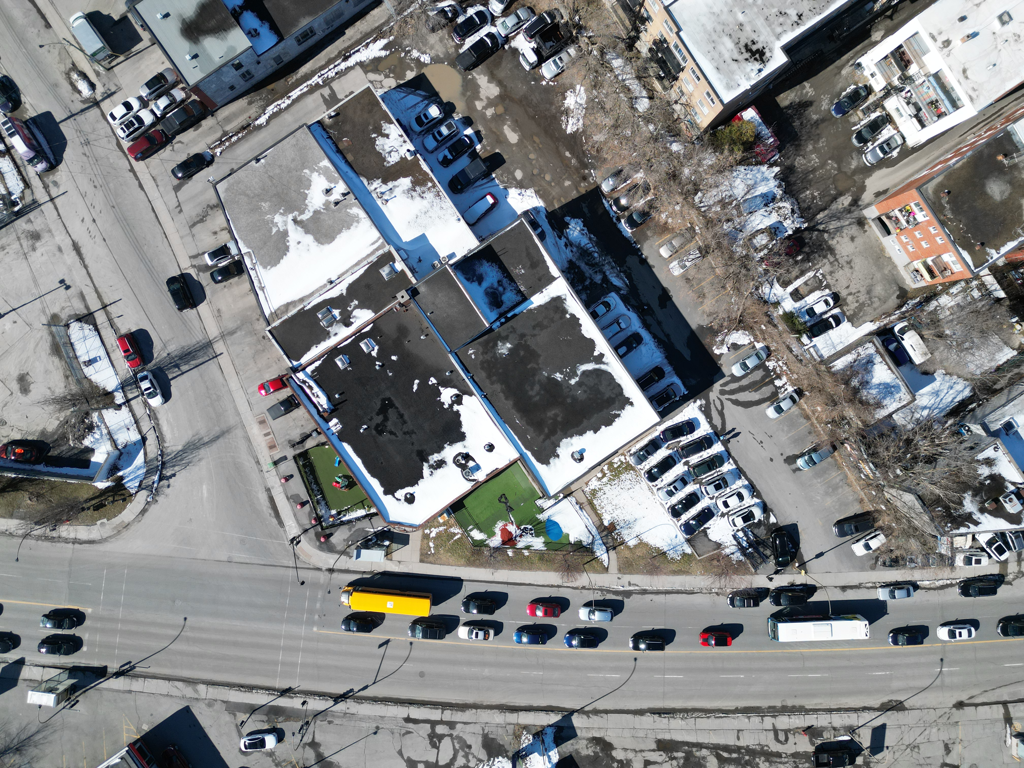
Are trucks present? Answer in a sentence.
Yes, the frame does contain a truck.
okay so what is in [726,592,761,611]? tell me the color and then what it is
black car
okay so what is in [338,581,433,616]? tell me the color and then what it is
yellow bus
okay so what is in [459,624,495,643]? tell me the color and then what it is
white car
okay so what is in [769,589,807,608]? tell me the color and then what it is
black car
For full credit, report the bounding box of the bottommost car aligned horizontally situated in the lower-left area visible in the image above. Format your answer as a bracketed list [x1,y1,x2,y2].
[238,731,278,753]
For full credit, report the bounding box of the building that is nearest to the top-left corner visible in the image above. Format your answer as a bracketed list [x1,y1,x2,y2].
[130,0,273,111]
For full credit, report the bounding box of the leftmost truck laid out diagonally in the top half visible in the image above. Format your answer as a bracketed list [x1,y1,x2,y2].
[0,116,60,172]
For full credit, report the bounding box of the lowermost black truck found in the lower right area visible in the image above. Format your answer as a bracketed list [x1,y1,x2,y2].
[811,746,856,768]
